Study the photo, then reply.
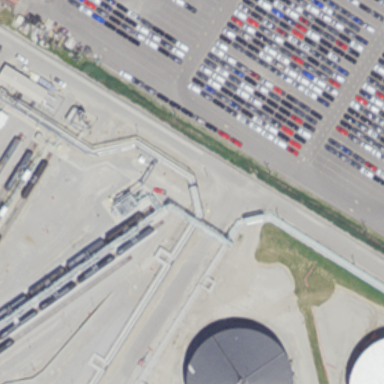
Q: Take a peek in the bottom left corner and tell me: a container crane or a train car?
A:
train car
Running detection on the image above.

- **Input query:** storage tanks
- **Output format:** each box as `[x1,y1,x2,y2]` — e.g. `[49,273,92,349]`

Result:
[184,326,296,384]
[346,336,384,384]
